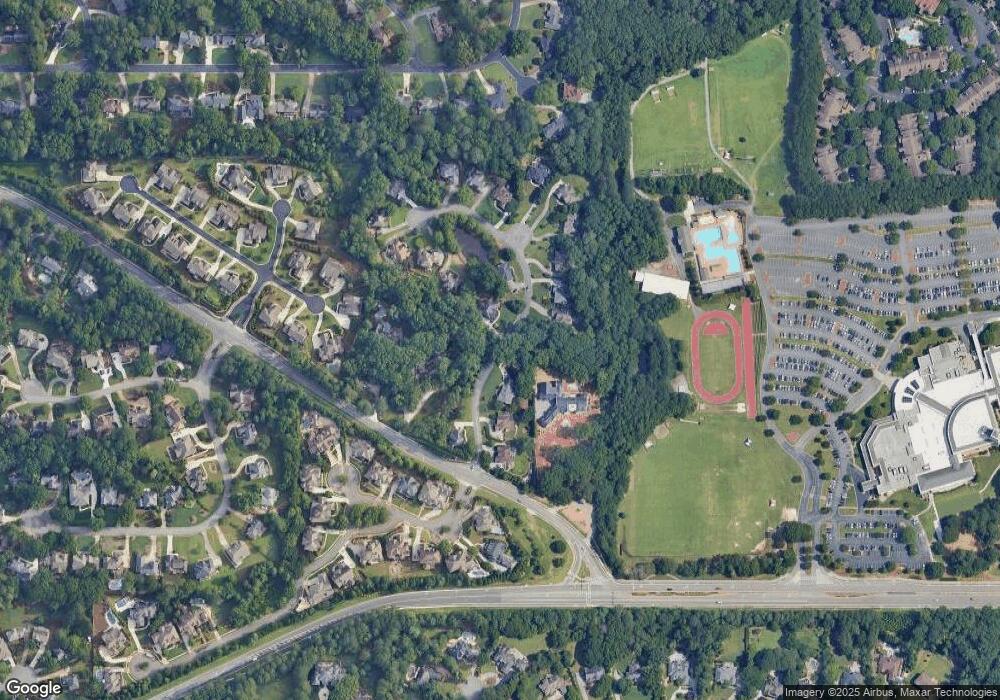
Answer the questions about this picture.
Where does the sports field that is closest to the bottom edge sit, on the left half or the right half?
right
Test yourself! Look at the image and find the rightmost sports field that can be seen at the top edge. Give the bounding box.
[709,26,790,213]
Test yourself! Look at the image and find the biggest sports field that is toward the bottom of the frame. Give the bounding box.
[619,419,803,555]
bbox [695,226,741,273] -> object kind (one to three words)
swimming pool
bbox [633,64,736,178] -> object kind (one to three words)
sports field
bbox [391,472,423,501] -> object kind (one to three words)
house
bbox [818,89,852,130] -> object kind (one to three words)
building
